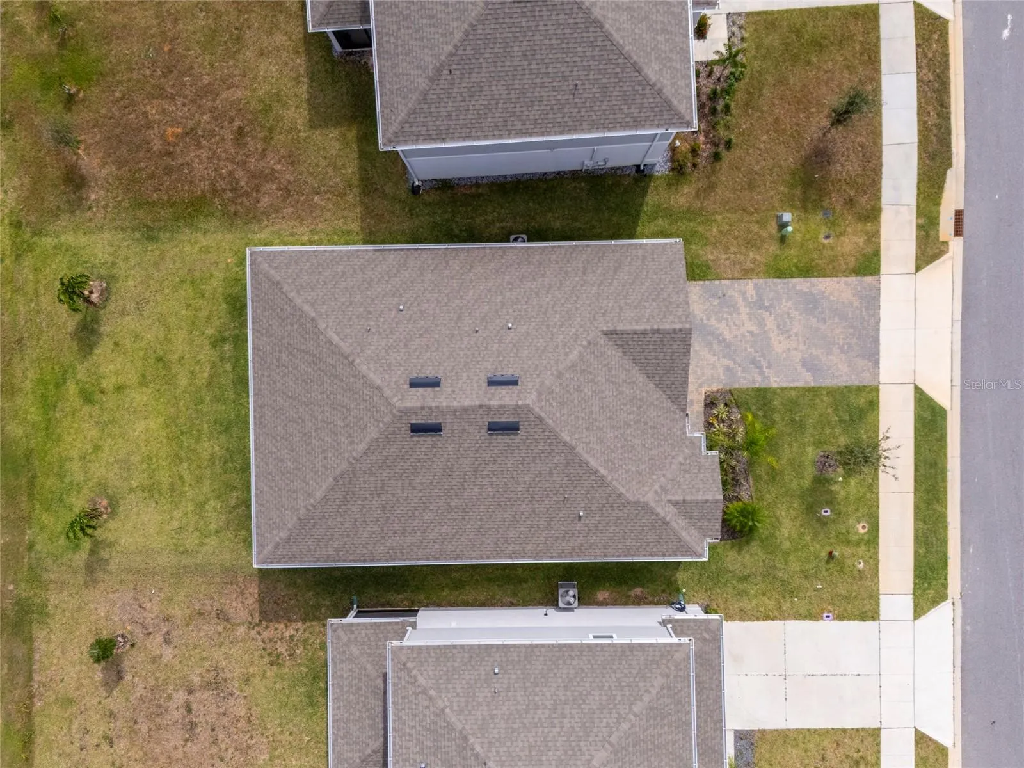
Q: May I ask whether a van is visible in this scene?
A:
No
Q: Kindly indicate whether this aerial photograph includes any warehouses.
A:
No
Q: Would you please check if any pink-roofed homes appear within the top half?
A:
No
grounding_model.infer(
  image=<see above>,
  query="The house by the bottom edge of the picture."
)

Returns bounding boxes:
[327,601,726,768]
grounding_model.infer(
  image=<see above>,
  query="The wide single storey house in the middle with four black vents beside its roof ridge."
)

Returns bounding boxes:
[247,240,723,567]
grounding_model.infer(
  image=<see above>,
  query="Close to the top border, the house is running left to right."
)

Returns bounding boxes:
[305,0,718,182]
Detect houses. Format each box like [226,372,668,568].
[305,0,718,182]
[247,240,723,567]
[327,601,726,768]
